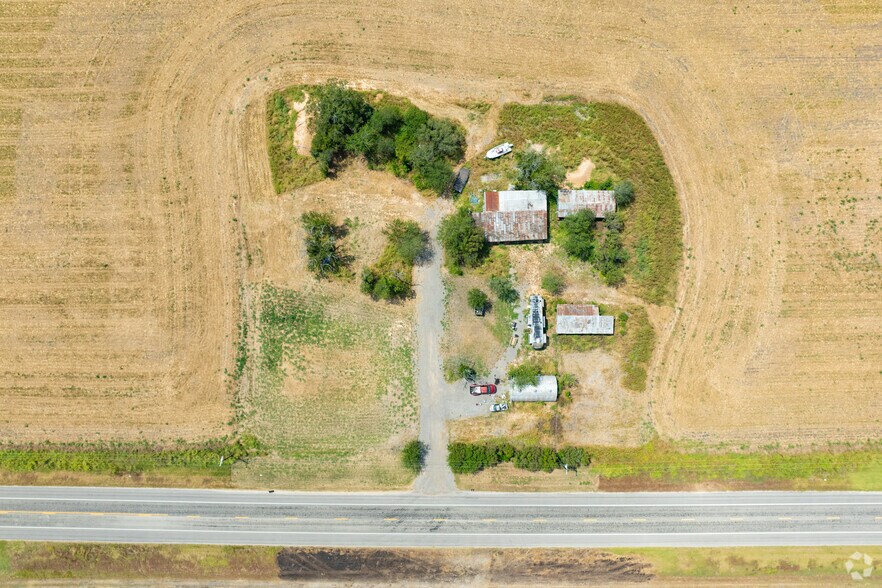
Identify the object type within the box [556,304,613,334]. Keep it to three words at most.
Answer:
shed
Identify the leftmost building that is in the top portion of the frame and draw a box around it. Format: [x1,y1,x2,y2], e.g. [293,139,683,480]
[472,190,547,242]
